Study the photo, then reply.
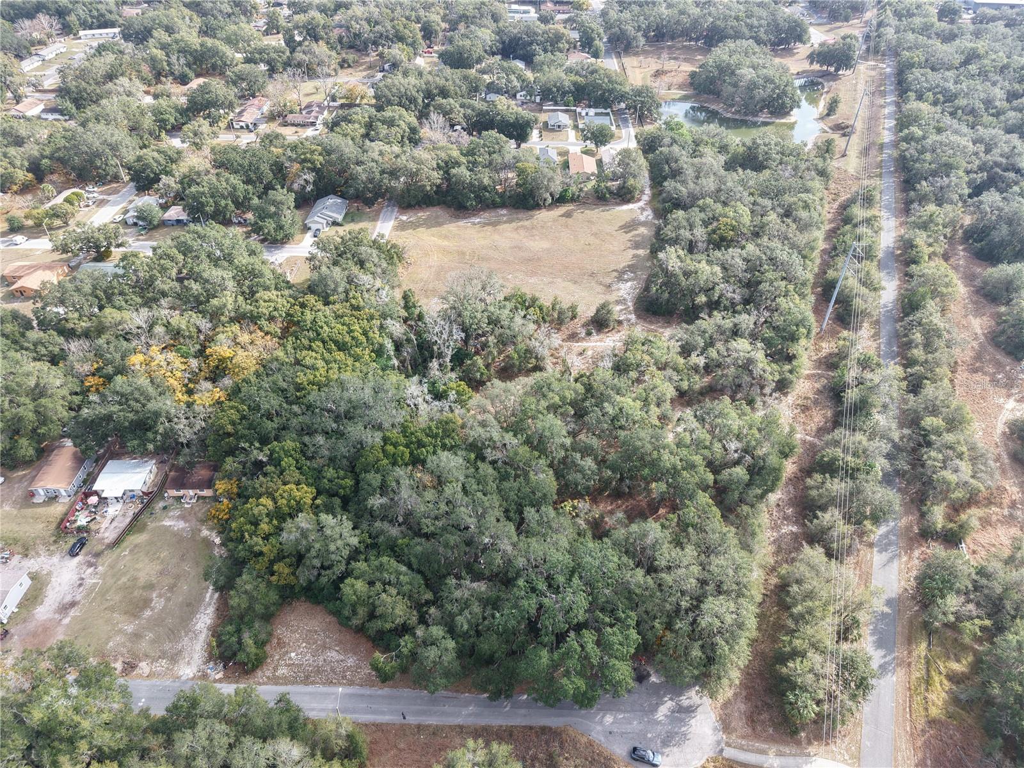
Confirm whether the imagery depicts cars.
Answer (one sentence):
Yes, there is a car in the image.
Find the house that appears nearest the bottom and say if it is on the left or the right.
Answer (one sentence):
The house that appears nearest the bottom appears in the left half of the scene.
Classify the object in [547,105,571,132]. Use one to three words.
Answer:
house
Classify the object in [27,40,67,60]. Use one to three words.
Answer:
house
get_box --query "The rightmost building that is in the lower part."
[156,457,226,508]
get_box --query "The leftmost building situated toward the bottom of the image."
[0,573,31,625]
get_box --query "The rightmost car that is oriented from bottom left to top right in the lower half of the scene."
[62,536,89,560]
